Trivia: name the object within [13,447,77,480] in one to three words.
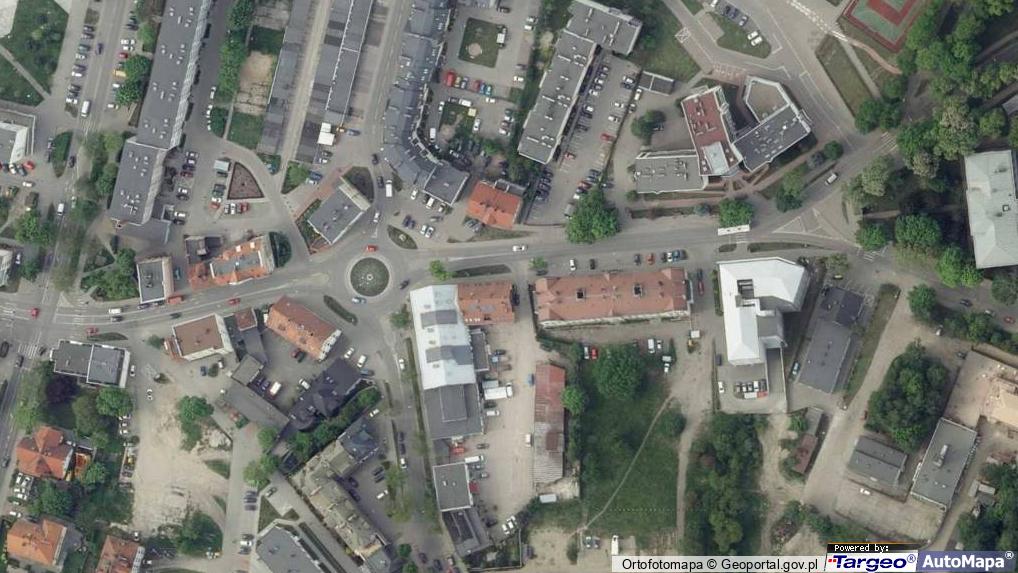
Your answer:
house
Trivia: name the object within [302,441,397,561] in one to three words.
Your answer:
building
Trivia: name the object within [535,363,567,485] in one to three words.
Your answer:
shed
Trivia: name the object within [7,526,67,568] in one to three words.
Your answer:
house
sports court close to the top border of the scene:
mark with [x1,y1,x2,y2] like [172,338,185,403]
[841,0,925,51]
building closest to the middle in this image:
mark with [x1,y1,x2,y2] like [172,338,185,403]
[458,281,518,326]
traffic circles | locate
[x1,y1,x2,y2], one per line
[346,254,394,300]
